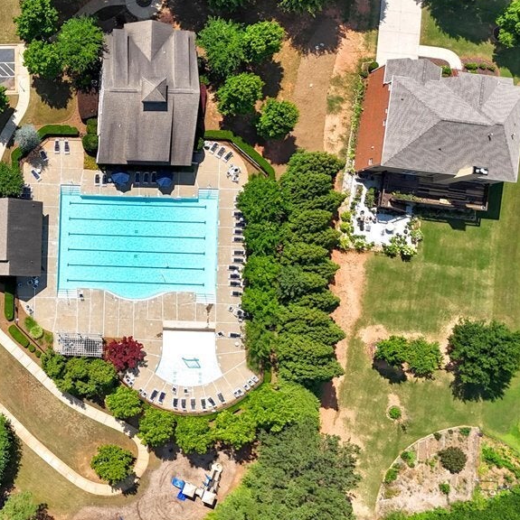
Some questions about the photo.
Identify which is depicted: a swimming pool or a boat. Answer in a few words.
swimming pool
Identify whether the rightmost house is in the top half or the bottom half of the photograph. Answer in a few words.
top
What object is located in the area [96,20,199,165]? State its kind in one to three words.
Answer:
building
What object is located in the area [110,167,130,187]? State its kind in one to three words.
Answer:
umbrella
